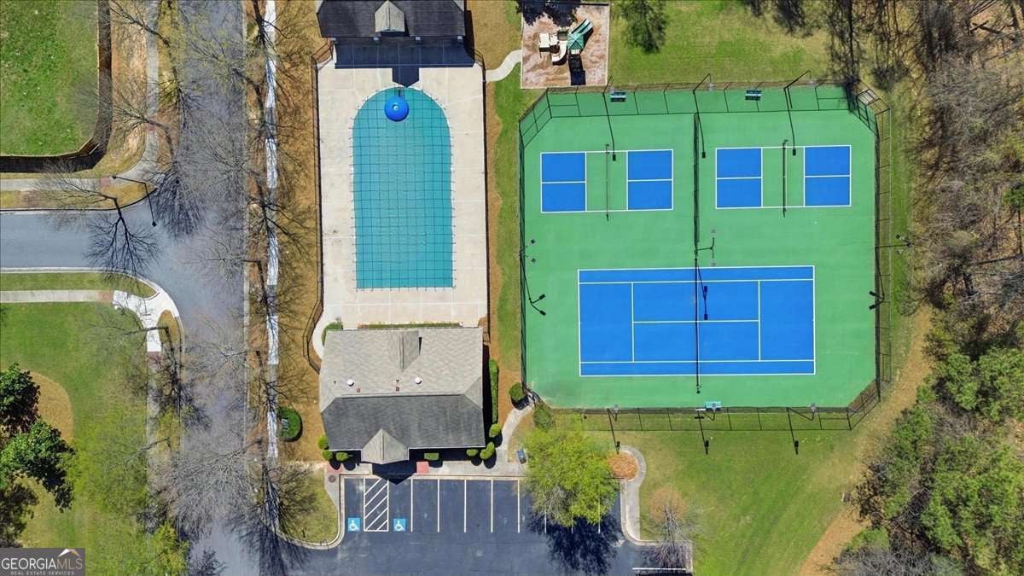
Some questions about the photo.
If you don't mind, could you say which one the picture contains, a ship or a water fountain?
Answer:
water fountain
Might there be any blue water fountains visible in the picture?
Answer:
Yes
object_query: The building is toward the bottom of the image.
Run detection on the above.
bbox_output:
[319,327,485,466]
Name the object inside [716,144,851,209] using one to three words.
sports court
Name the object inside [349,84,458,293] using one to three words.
swimming pool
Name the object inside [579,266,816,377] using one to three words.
tennis court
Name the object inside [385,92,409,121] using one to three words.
fountain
